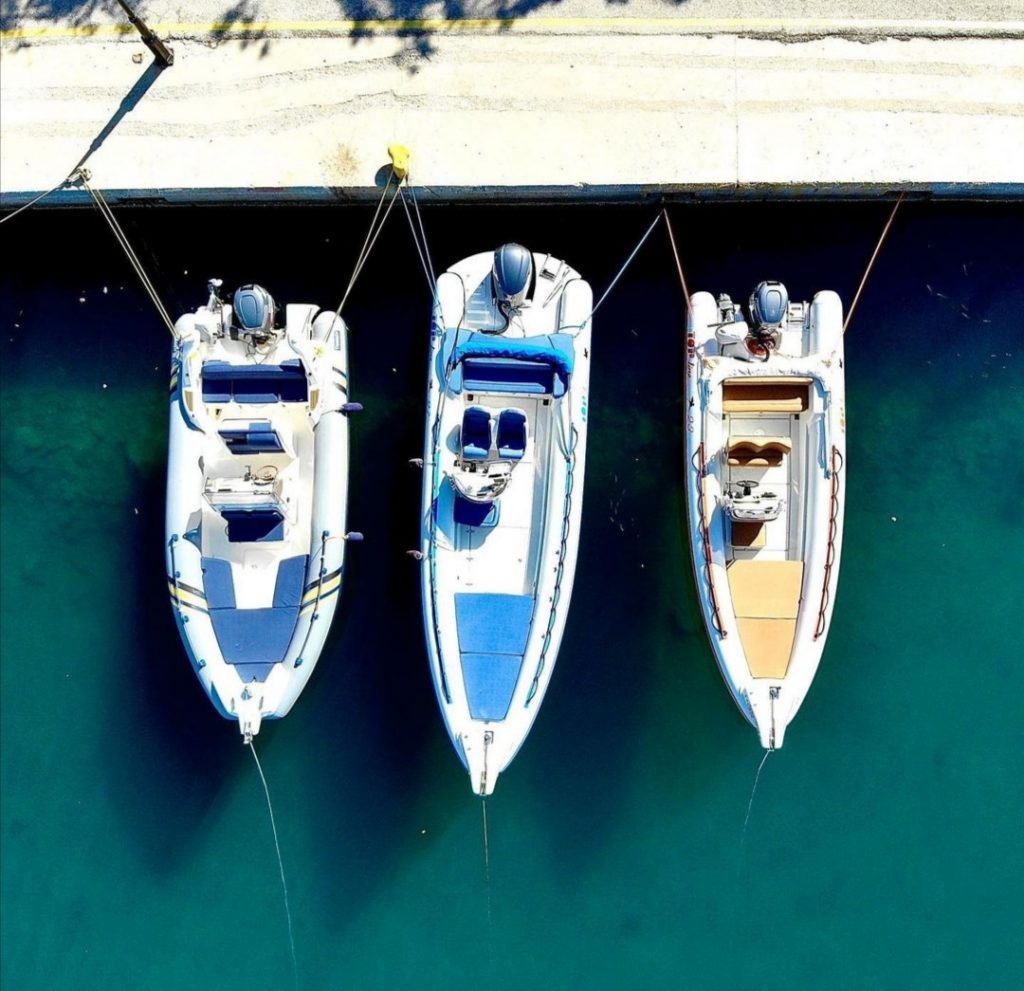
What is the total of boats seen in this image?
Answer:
3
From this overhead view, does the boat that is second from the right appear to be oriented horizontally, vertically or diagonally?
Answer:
vertically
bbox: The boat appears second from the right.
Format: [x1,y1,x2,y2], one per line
[419,246,594,797]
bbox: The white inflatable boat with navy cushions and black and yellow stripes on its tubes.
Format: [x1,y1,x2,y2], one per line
[167,279,351,743]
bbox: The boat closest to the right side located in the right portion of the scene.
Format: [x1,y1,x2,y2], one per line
[682,282,847,751]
